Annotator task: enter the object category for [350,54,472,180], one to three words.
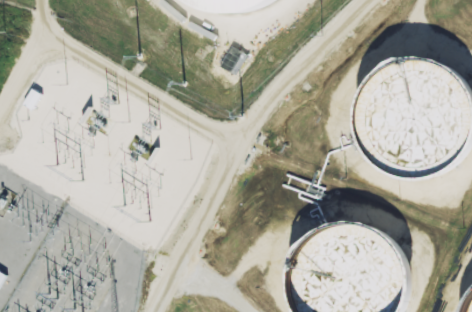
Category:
storage tank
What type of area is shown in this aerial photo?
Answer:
industrial area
